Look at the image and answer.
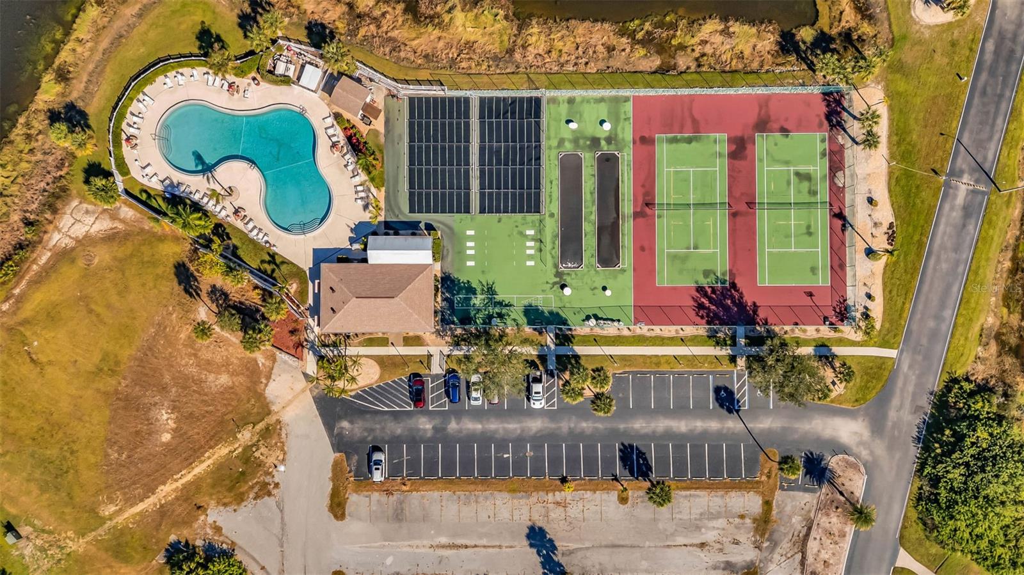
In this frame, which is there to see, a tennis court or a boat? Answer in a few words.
tennis court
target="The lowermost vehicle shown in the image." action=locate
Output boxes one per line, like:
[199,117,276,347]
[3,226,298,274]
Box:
[370,452,385,482]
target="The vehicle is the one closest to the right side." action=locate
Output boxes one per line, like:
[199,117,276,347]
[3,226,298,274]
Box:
[530,370,545,408]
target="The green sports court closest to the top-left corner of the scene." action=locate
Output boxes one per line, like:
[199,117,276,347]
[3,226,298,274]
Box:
[384,94,633,326]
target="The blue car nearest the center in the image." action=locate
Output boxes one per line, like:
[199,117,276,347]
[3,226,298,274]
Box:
[447,373,461,403]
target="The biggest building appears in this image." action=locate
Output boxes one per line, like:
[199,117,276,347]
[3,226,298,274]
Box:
[320,264,434,332]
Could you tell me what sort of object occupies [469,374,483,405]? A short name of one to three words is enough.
car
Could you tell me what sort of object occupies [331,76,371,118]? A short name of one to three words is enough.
shed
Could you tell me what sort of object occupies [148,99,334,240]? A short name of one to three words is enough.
swimming pool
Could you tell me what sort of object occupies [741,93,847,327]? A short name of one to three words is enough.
tennis court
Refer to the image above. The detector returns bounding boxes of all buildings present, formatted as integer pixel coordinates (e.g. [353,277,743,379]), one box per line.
[299,64,322,91]
[331,76,371,118]
[320,264,434,332]
[367,236,433,263]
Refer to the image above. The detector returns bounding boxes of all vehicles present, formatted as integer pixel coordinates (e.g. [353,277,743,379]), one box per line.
[447,373,461,403]
[412,378,426,409]
[370,452,385,482]
[469,374,483,405]
[530,370,545,408]
[488,375,500,405]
